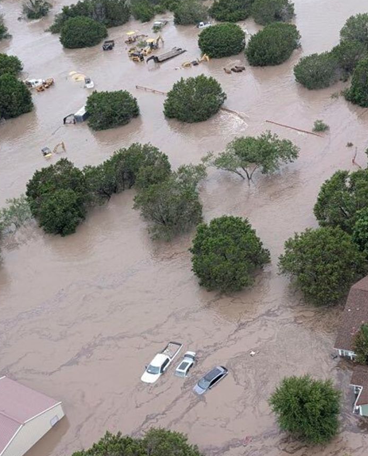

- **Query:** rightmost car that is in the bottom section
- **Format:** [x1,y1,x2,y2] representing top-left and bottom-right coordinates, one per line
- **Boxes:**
[195,366,228,396]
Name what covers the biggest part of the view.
water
